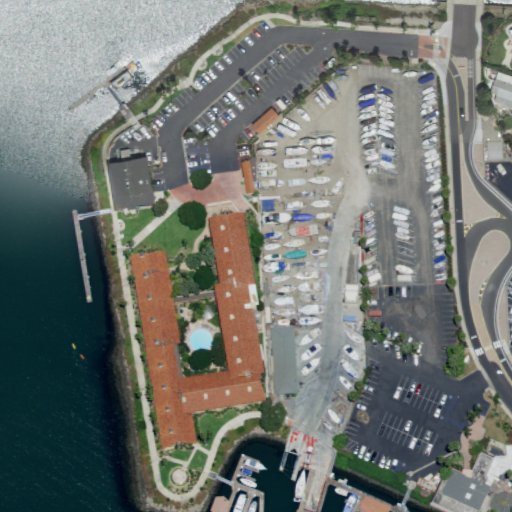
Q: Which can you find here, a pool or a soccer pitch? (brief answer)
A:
pool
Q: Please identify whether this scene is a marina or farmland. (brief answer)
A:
marina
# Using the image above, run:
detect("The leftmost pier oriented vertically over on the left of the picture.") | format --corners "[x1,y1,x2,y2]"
[73,210,92,302]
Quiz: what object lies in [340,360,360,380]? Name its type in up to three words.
boat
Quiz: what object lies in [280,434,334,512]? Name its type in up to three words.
pier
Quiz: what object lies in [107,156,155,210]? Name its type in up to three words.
building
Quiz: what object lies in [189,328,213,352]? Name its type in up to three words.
swimming pool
